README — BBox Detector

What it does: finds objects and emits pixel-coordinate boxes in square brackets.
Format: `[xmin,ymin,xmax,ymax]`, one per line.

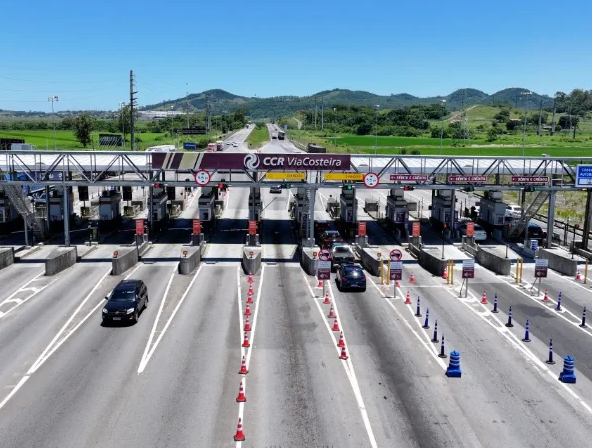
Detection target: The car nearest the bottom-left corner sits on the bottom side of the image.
[105,276,149,320]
